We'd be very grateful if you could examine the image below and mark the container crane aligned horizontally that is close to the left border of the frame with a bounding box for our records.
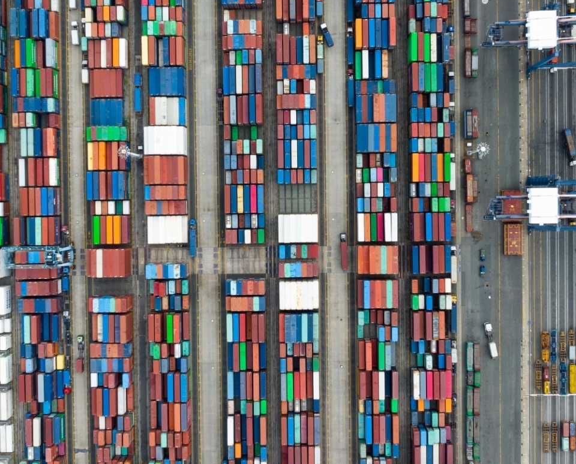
[3,236,74,271]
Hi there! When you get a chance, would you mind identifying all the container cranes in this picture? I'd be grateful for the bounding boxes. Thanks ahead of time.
[472,166,576,240]
[470,1,576,85]
[3,236,74,271]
